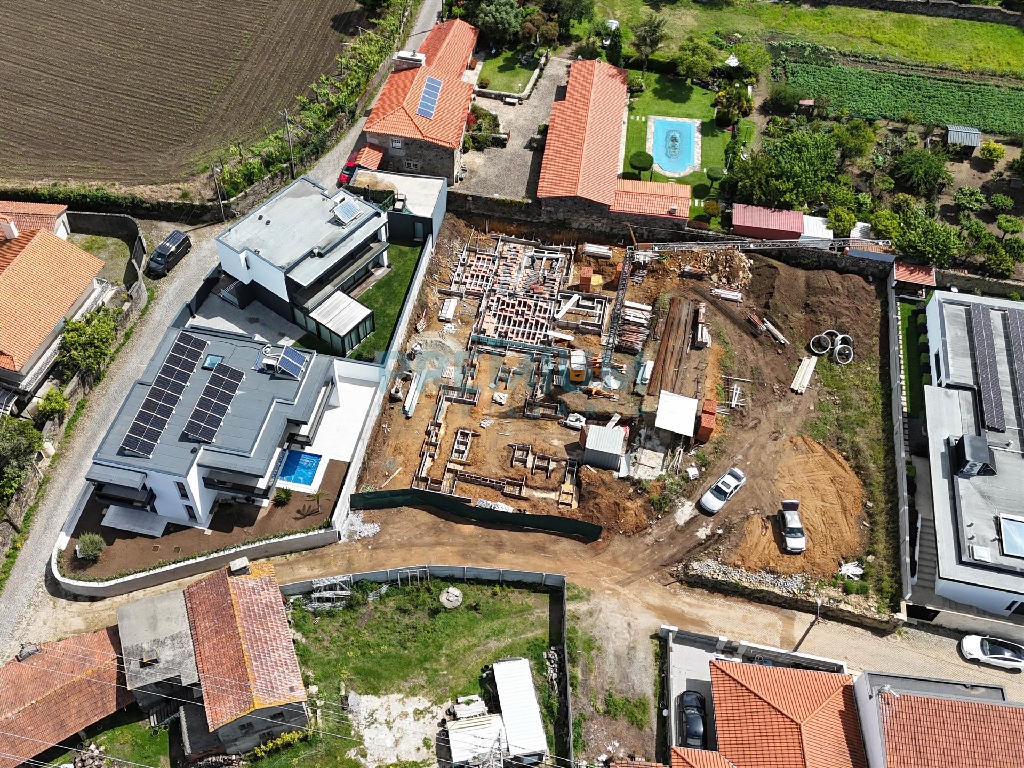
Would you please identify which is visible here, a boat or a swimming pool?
swimming pool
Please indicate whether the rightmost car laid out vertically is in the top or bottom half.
bottom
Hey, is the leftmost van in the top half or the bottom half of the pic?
top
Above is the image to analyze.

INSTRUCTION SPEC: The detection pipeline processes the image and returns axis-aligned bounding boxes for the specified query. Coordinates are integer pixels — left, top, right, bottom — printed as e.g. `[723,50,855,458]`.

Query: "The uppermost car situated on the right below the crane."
[698,464,749,517]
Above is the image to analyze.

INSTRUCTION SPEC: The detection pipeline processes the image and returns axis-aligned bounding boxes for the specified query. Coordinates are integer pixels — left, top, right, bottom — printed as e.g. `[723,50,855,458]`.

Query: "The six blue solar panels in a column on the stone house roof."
[417,75,443,117]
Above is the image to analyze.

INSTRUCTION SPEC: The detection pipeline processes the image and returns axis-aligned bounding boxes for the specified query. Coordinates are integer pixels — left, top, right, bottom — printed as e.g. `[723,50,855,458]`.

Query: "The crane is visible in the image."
[591,224,892,372]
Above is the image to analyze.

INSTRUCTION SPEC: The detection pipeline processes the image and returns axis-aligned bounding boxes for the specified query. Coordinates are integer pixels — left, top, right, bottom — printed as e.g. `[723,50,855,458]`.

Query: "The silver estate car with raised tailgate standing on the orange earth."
[779,496,810,555]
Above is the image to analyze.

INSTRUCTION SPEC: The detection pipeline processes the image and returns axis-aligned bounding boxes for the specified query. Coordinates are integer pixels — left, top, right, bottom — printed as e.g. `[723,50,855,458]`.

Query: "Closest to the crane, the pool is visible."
[647,115,701,178]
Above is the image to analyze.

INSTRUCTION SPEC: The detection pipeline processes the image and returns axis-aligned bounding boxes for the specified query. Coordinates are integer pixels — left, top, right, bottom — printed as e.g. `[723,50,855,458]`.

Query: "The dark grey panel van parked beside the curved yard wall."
[149,227,194,278]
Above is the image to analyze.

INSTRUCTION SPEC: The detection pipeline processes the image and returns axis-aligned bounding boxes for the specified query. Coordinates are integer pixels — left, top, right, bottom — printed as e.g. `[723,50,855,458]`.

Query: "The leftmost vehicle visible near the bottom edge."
[676,685,712,754]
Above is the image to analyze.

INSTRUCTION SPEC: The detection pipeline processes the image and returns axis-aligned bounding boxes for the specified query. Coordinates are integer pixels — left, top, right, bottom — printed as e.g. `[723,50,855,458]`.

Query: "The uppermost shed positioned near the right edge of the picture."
[942,128,980,161]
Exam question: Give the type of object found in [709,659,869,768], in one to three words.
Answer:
house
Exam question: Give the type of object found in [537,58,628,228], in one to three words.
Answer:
barn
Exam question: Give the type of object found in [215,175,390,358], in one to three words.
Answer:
house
